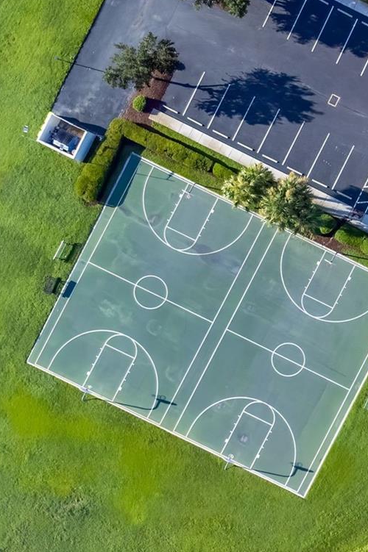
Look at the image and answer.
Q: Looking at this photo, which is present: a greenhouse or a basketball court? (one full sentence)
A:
There is a basketball court in the scene.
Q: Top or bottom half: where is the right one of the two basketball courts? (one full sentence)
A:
The bottom half of the photo is where the right one of the two basketball courts is.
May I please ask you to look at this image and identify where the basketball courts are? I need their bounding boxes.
[26,151,271,431]
[164,222,368,499]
